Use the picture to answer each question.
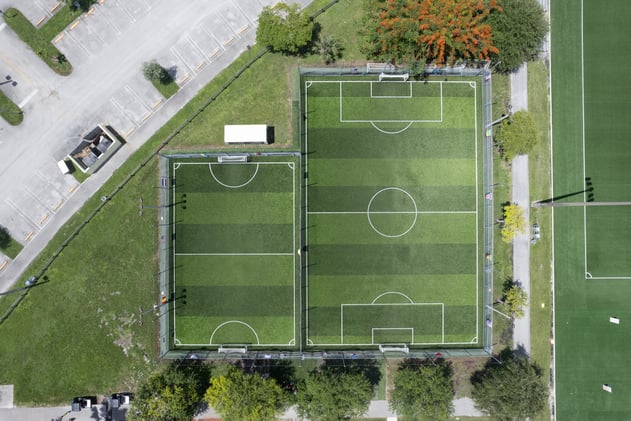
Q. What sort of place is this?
sports ground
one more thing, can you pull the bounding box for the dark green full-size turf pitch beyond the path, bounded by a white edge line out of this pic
[550,0,631,421]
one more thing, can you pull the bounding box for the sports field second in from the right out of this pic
[300,76,483,351]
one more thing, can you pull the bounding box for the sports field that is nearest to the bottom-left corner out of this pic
[169,157,300,350]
